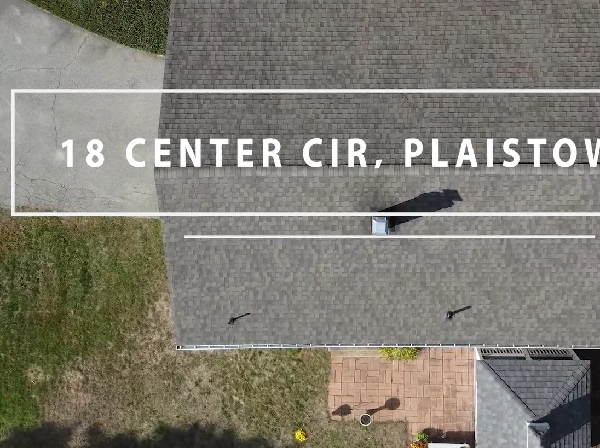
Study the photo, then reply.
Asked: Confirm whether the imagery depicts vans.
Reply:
No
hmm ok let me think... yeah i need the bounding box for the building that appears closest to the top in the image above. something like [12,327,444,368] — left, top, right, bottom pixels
[154,0,600,350]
